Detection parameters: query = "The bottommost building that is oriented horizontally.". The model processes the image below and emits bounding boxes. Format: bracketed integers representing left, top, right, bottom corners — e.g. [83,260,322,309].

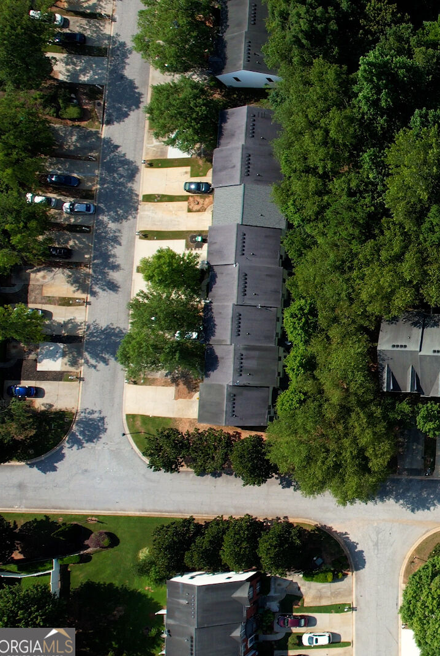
[164,614,260,656]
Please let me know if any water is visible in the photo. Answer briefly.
No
